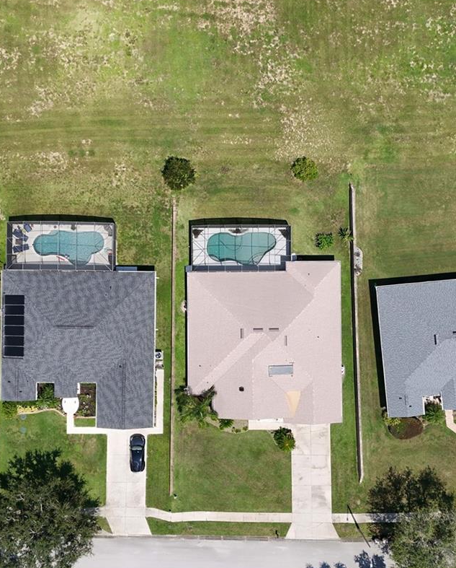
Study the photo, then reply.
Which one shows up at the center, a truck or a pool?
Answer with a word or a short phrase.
pool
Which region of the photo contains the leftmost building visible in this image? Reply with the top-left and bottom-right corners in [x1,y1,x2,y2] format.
[1,269,158,432]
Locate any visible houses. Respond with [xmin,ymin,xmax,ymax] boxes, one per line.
[375,278,456,417]
[186,261,342,426]
[1,269,158,432]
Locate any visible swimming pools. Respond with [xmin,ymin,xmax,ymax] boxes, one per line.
[205,230,278,268]
[30,228,107,269]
